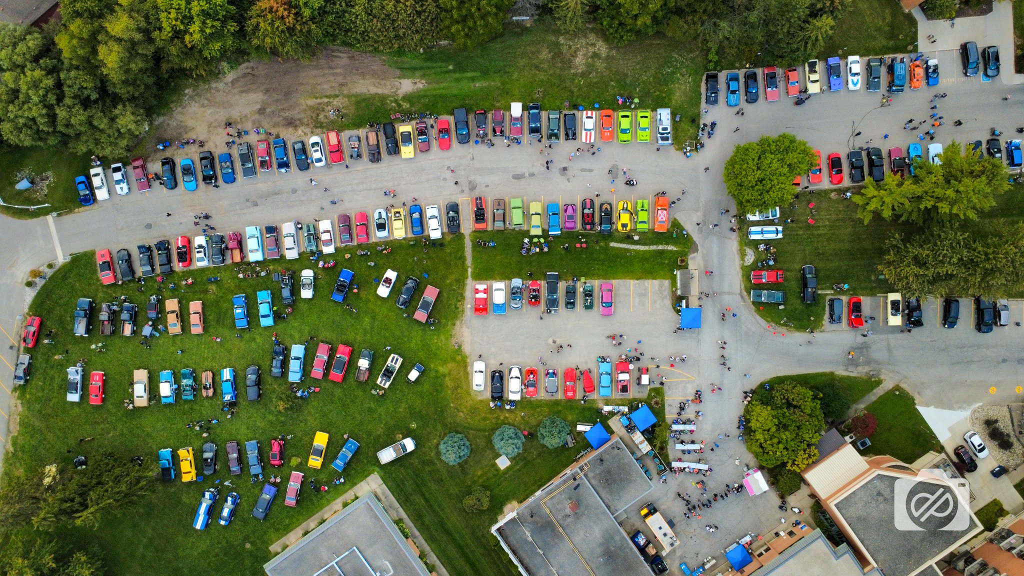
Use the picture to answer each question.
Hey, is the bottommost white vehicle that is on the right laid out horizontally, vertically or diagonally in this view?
diagonally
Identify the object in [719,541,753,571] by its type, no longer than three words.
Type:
tent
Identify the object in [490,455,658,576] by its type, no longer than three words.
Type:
building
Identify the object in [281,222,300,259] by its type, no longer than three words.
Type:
car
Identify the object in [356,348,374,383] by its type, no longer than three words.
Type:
vehicle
